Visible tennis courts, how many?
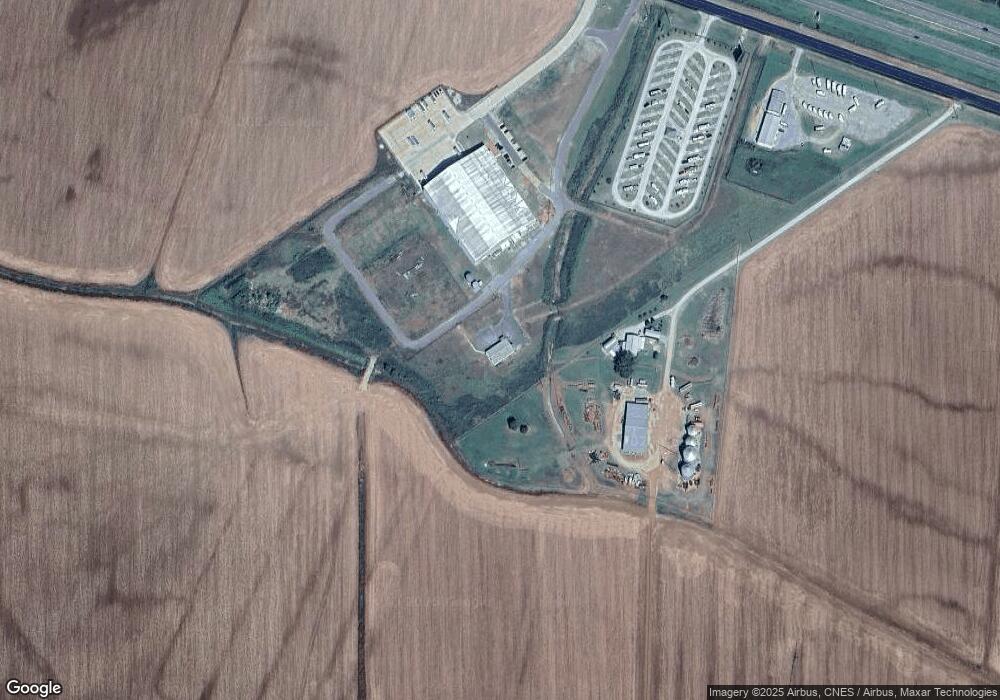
0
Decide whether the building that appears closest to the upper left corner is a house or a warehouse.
warehouse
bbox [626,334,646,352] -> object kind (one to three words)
house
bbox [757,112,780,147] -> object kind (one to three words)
building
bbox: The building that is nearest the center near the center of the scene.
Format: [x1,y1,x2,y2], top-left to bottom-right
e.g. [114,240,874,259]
[486,340,515,365]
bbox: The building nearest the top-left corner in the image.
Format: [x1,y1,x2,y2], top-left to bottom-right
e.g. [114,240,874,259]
[423,149,539,264]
